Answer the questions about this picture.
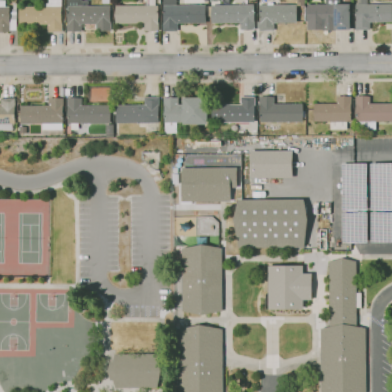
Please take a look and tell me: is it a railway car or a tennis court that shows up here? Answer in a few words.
tennis court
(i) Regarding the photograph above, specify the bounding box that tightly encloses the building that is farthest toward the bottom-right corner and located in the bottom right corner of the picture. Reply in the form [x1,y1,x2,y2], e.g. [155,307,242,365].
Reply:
[322,327,366,392]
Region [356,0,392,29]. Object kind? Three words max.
house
